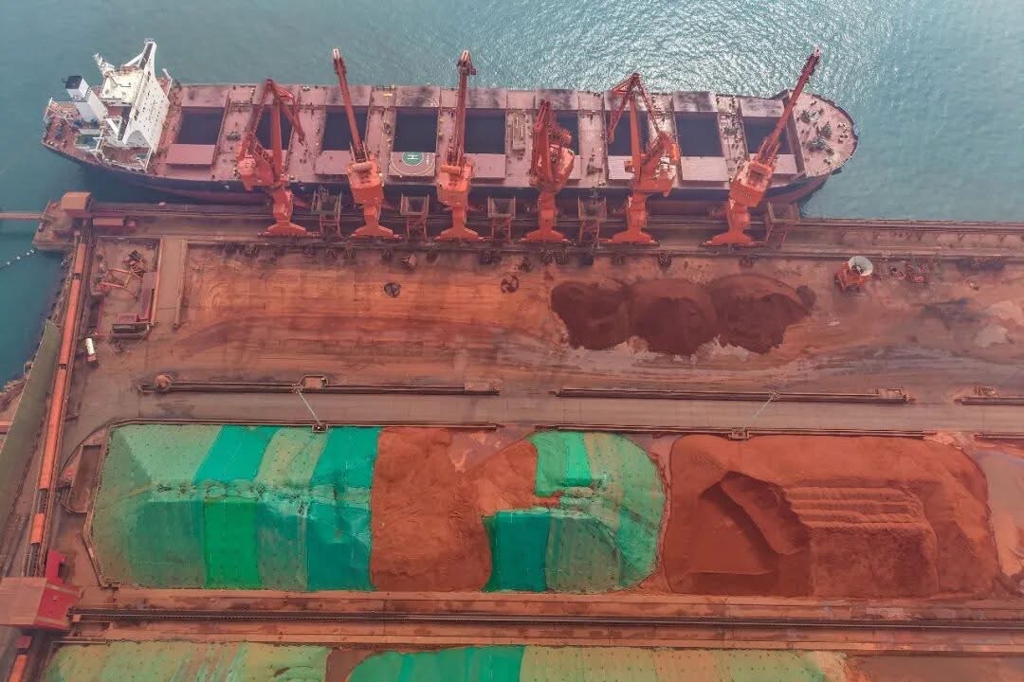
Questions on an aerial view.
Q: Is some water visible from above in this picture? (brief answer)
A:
Yes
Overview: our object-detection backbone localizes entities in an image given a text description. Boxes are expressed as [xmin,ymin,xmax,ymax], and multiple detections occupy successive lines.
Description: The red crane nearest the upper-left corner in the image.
[220,76,312,236]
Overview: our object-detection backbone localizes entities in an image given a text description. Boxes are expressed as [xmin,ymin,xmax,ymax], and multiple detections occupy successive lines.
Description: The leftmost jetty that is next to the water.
[30,202,90,252]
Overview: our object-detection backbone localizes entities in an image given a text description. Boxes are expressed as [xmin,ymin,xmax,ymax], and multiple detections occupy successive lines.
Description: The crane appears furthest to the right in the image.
[702,51,822,246]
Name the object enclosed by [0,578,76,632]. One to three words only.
house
